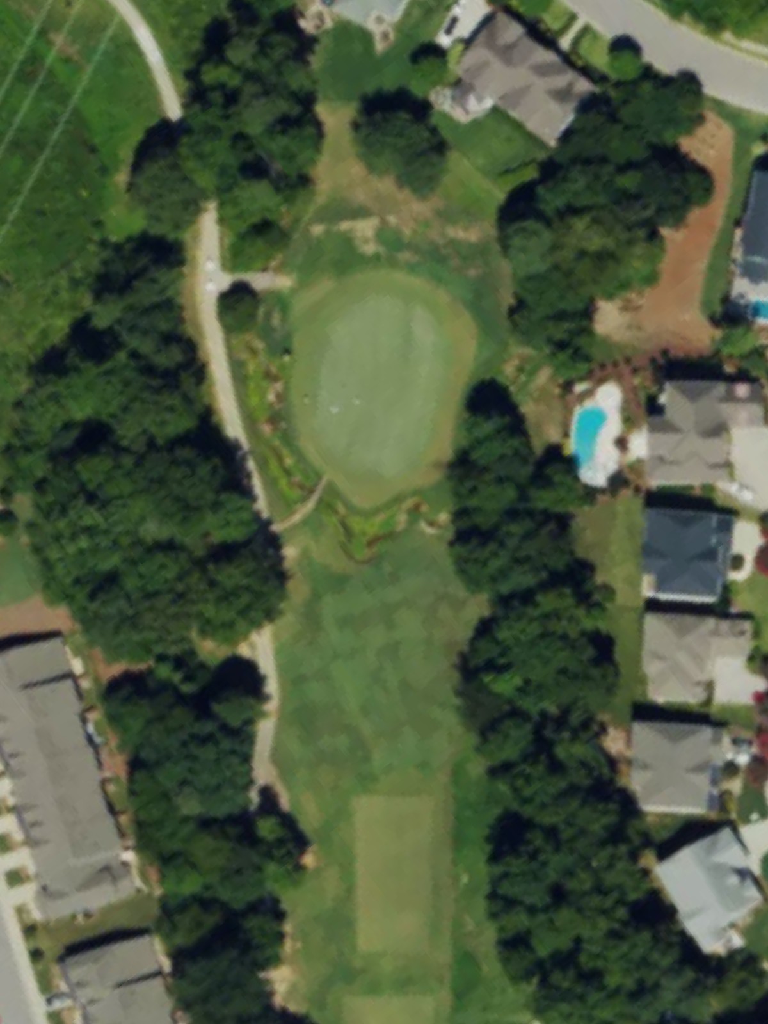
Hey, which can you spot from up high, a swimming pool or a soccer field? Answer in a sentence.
This aerial view contains a swimming pool.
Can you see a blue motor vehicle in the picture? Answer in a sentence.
No, no blue motor vehicle is visible in the scene.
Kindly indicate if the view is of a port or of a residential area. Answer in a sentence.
This looks like a residential area.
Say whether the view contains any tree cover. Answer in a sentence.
Yes, tree cover can be seen from above here.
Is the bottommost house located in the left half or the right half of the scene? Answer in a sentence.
The bottommost house sits on the left side.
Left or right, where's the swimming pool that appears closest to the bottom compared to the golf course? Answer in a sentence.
The swimming pool that appears closest to the bottom appears to the right of the golf course in this view.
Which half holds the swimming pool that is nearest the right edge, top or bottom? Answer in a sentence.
The swimming pool that is nearest the right edge sits in the top half of the picture.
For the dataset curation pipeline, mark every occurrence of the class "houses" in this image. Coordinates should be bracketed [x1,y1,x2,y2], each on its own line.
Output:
[648,381,765,485]
[739,168,768,288]
[657,828,765,954]
[63,931,176,1024]
[644,510,733,603]
[455,13,593,142]
[632,722,724,813]
[324,0,412,30]
[642,612,753,701]
[0,637,134,918]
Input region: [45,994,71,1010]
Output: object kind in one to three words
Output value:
car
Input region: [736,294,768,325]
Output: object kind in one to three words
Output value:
swimming pool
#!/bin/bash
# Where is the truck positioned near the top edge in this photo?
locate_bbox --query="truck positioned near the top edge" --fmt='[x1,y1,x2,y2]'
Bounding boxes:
[439,5,464,43]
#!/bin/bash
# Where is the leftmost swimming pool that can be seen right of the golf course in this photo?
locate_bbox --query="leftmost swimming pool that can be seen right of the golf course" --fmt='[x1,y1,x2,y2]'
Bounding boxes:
[571,380,622,487]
